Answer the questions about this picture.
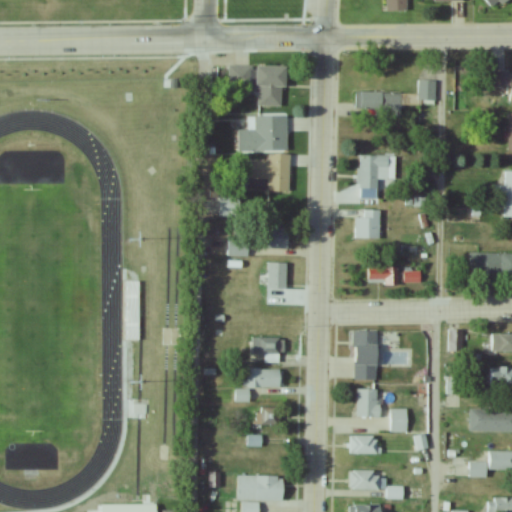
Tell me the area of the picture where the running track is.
left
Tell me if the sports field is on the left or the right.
left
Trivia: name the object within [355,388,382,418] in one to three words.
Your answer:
house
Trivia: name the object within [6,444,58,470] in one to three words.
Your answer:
sports court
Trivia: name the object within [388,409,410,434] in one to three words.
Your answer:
building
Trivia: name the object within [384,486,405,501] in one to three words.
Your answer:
building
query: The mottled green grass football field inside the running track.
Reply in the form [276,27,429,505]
[0,131,102,488]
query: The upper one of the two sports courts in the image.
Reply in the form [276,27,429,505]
[0,151,64,185]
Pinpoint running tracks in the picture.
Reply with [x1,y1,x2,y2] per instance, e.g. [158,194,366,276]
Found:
[0,110,123,509]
